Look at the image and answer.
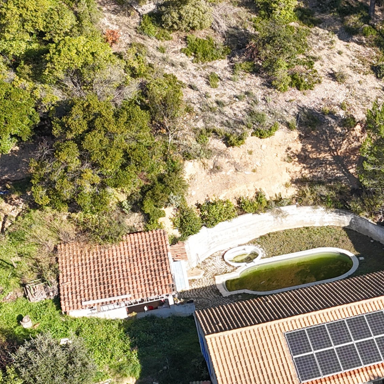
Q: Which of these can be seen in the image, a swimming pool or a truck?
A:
swimming pool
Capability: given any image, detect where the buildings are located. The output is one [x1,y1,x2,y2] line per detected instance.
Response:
[55,229,179,330]
[194,270,384,384]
